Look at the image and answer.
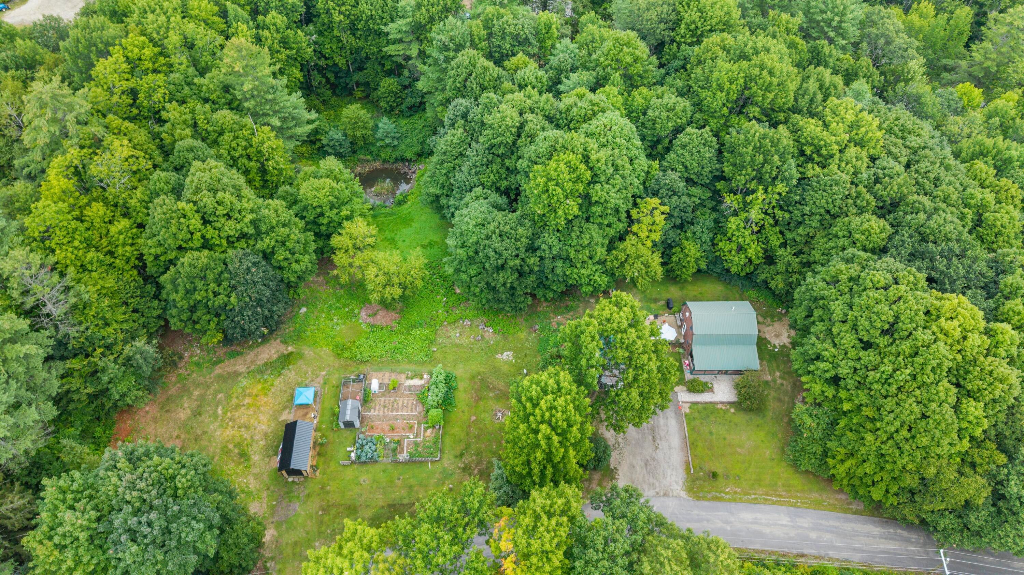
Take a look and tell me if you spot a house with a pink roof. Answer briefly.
No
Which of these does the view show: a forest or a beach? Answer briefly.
forest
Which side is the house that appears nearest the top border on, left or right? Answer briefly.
right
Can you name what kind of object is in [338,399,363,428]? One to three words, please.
shed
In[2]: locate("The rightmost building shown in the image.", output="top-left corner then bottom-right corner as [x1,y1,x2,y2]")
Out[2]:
[680,301,759,375]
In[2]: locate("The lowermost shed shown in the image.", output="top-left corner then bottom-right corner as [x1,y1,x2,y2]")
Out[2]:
[277,419,316,480]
